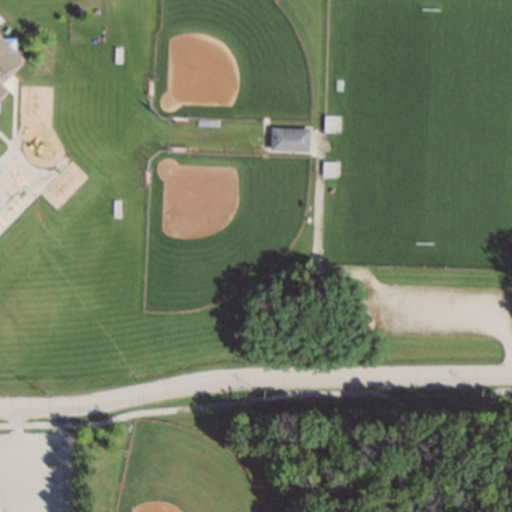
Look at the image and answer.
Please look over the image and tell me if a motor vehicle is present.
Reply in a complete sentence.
No, I find no motor vehicle anywhere in the image.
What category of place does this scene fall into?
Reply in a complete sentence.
This looks like a sports ground.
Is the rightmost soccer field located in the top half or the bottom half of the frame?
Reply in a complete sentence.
The rightmost soccer field is in the top half of the image.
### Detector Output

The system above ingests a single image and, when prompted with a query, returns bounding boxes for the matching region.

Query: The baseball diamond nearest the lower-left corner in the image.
[116,418,258,512]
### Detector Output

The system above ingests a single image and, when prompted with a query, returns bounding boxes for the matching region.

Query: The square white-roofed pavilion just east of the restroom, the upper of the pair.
[324,116,342,134]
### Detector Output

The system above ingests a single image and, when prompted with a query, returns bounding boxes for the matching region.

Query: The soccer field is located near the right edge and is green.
[327,0,512,268]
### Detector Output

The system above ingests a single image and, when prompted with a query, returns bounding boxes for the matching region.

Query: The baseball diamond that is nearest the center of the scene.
[146,152,310,312]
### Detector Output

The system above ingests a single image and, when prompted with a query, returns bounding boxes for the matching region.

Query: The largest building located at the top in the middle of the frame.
[264,118,320,156]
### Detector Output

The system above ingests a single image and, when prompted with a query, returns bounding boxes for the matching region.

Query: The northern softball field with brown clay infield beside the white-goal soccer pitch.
[153,0,312,121]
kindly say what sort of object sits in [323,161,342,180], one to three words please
building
